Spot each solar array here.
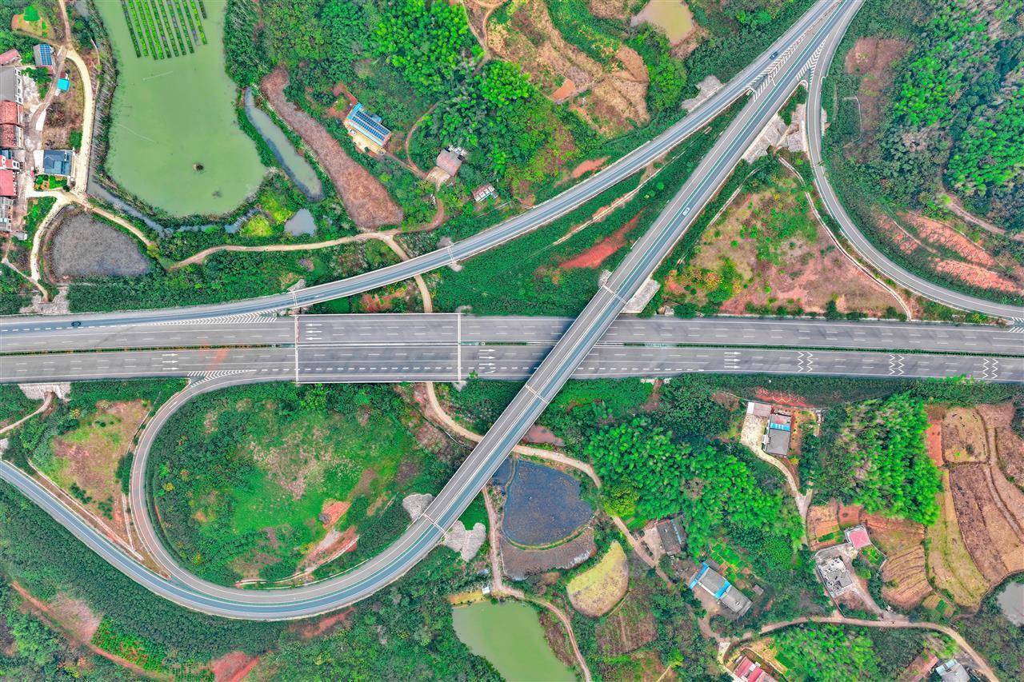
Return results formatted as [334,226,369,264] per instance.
[357,108,387,133]
[39,43,52,64]
[353,113,383,139]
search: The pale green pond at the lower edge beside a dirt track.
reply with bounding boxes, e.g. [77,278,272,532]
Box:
[451,601,577,682]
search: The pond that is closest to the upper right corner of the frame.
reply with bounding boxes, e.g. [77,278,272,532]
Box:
[631,0,696,40]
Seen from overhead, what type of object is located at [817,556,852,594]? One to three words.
house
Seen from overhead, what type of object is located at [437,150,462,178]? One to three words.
house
